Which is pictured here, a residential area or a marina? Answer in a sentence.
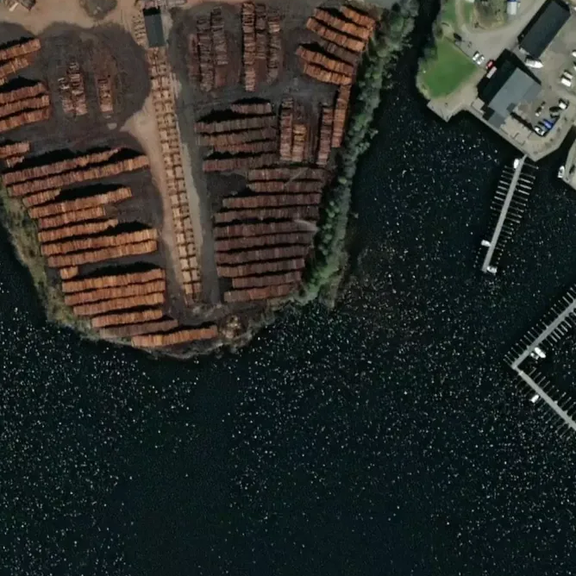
This image shows a marina.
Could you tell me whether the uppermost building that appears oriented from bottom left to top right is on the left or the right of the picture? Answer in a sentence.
You can find the uppermost building that appears oriented from bottom left to top right on the right side of the picture.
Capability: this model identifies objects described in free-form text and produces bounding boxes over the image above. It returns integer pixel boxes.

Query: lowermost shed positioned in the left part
[143,13,164,47]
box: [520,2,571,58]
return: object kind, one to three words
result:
building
